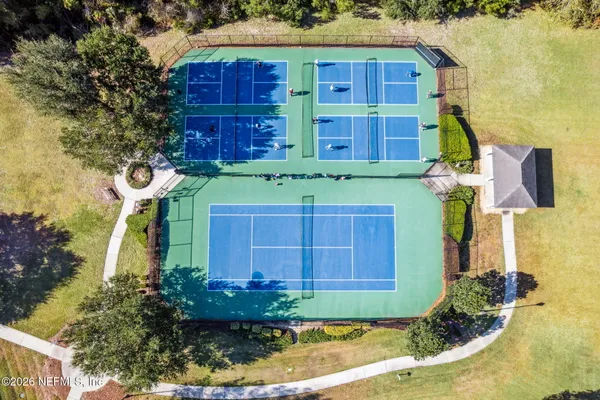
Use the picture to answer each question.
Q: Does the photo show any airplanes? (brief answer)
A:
No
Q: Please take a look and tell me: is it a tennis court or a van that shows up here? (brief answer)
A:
tennis court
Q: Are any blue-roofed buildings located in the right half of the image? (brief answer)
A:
No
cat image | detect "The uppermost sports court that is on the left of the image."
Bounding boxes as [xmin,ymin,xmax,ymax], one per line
[186,61,288,105]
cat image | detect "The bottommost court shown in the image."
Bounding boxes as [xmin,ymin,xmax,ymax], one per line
[159,177,443,320]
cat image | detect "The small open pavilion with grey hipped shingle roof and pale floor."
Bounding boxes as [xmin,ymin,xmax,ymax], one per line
[483,145,538,209]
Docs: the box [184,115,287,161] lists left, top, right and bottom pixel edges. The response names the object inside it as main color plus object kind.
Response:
blue sports court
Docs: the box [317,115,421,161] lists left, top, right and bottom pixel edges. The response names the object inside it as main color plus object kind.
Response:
blue sports court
